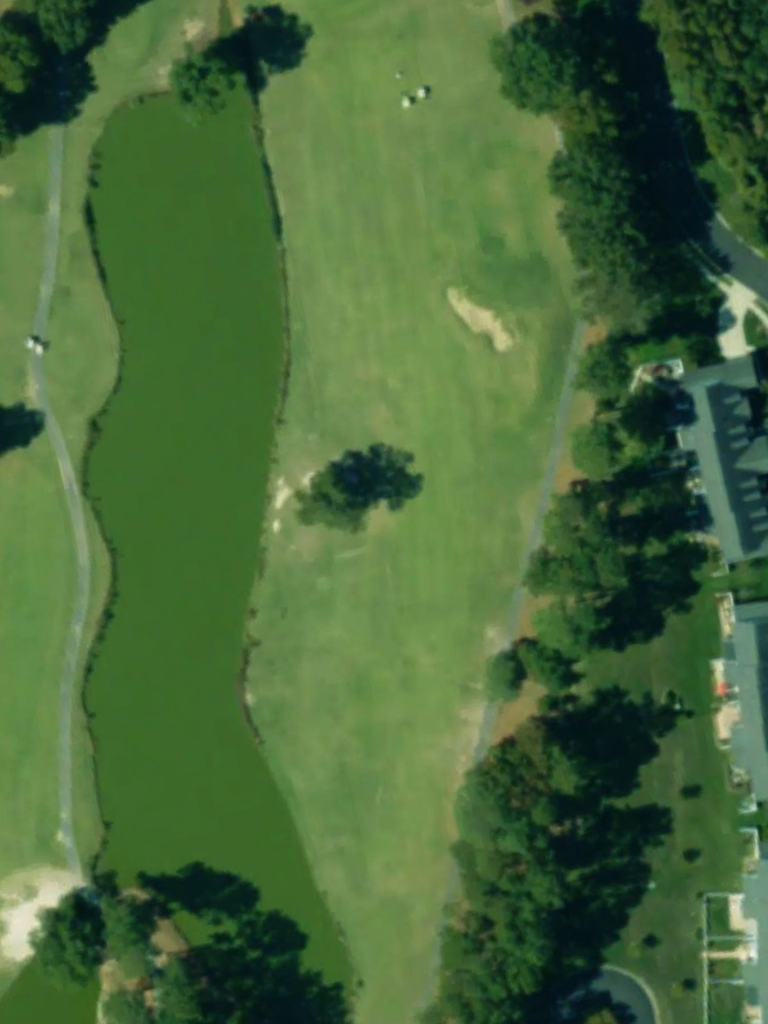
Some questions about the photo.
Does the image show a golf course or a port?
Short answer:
golf course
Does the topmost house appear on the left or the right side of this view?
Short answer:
right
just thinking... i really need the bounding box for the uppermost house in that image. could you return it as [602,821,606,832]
[677,352,768,563]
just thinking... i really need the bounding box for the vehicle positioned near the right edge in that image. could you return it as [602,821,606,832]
[719,306,731,330]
